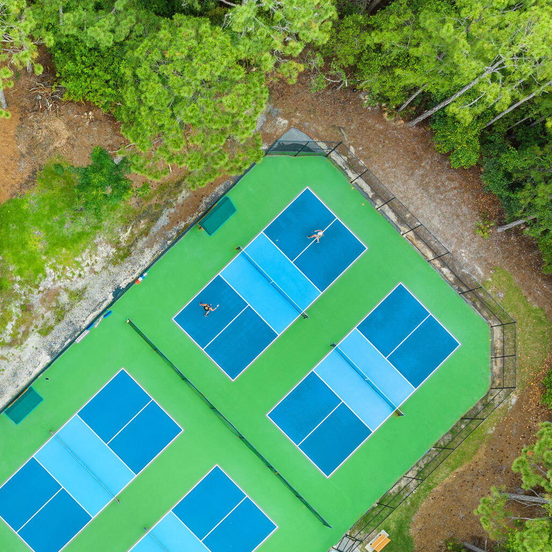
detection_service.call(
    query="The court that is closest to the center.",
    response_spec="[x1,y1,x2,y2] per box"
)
[170,185,369,382]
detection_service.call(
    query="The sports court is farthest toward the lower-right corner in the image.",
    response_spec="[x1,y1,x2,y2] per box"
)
[265,281,463,480]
